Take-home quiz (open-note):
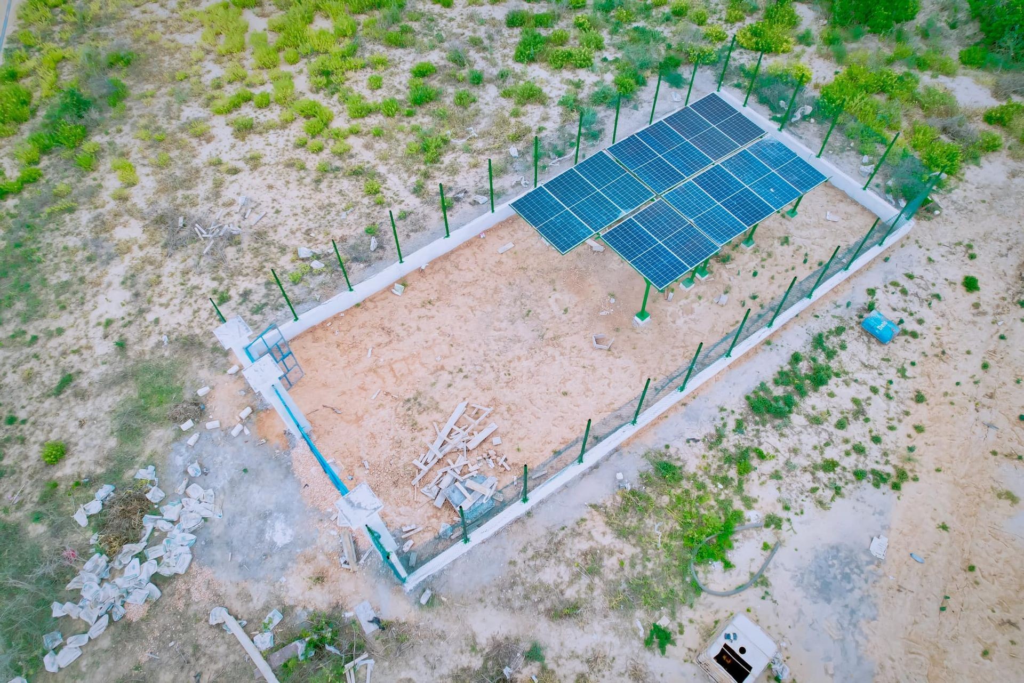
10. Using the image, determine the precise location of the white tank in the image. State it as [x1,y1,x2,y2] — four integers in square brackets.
[688,612,778,683]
